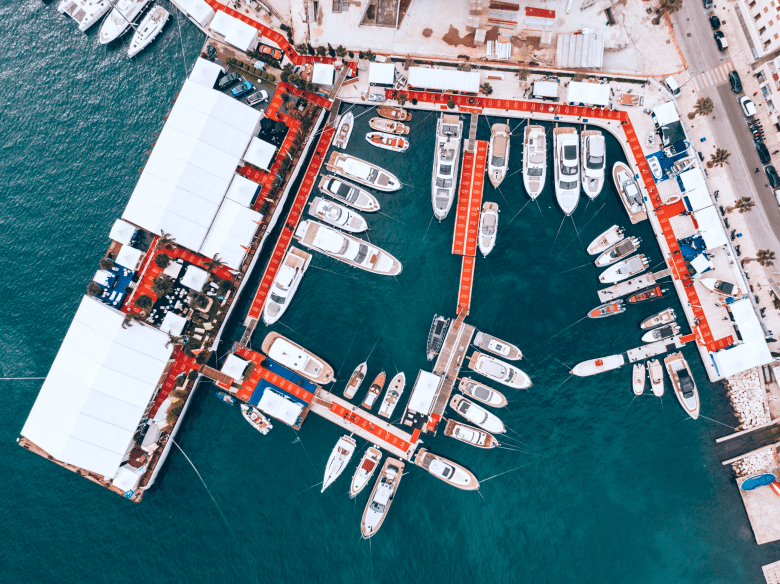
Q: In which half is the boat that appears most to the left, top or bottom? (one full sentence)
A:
The boat that appears most to the left sits in the top half of the picture.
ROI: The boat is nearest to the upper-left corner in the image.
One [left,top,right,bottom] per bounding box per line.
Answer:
[61,0,118,37]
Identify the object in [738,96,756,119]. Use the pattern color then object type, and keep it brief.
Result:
white car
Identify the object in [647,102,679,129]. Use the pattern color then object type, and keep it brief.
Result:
white tent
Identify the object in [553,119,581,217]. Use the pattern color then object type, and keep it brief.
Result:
white boat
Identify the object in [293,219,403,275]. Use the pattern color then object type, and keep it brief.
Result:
white boat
